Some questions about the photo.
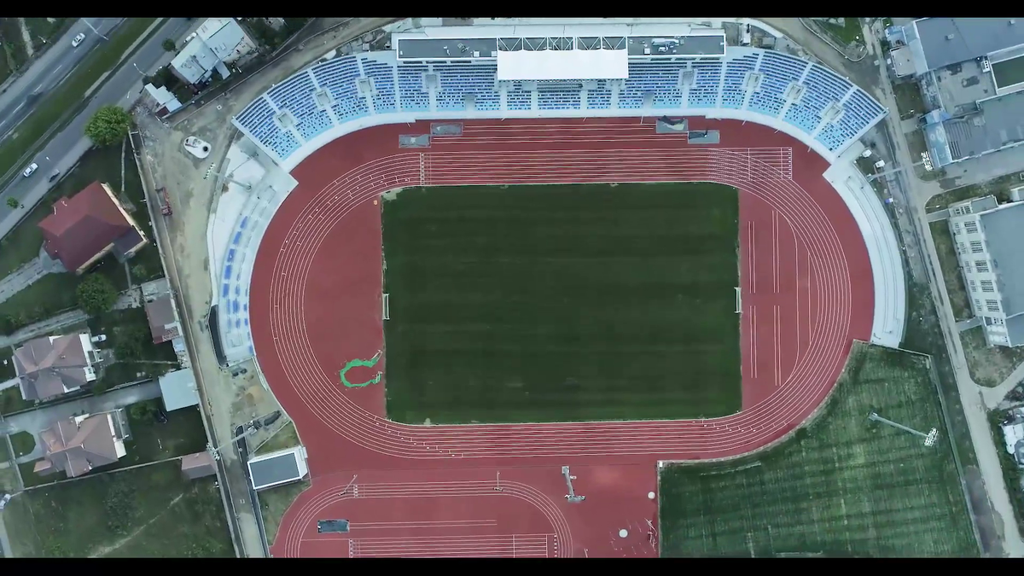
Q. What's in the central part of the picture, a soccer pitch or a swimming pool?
soccer pitch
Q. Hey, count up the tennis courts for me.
none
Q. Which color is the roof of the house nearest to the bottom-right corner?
white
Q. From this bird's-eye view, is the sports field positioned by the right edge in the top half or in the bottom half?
bottom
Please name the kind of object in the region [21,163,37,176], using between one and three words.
vehicle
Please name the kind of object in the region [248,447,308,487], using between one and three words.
building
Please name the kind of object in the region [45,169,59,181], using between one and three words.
vehicle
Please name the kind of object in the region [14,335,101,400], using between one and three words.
house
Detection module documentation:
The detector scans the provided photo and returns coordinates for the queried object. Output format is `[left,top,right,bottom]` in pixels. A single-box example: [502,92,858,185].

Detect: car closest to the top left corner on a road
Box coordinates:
[71,32,84,45]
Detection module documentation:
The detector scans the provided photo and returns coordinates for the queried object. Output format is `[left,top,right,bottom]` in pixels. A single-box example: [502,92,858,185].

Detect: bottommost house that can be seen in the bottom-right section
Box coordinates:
[995,421,1024,465]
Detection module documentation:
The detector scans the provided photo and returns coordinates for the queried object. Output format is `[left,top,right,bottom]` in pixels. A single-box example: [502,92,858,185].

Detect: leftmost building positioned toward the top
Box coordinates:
[38,181,153,274]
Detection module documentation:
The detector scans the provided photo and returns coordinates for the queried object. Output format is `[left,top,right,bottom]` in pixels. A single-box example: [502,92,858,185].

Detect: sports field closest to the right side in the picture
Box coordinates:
[659,342,983,576]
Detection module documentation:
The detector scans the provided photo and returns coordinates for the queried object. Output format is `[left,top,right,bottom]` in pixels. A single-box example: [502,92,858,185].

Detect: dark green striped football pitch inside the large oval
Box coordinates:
[380,182,743,425]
